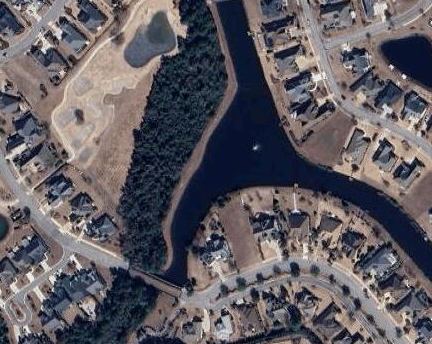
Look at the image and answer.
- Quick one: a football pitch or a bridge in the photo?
bridge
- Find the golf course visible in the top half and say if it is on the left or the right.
left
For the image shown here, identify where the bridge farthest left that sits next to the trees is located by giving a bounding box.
[125,260,184,297]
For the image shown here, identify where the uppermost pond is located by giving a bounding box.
[382,34,432,87]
